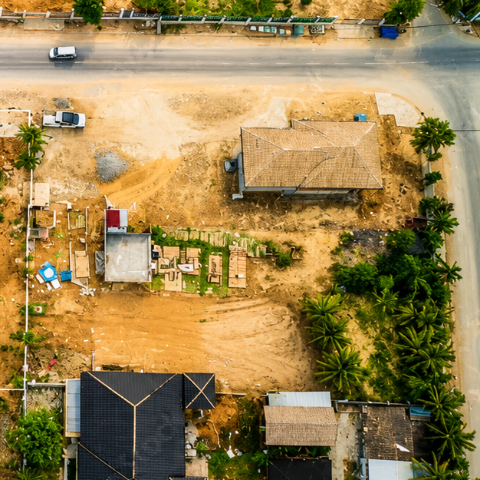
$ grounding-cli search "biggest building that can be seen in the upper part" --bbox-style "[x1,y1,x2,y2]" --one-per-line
[231,120,383,199]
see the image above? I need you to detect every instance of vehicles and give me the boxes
[48,47,77,61]
[43,113,84,129]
